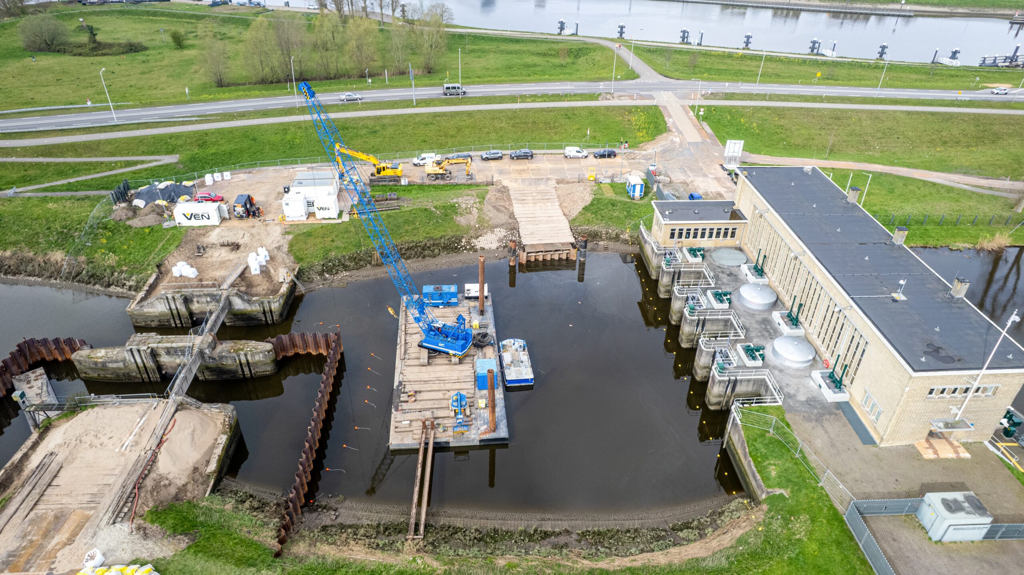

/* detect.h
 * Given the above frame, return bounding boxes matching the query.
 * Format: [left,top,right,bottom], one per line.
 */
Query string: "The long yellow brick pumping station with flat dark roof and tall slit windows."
[729,165,1024,446]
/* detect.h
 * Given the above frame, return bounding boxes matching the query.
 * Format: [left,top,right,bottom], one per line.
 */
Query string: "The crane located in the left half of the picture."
[293,82,475,365]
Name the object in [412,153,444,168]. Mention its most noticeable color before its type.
white vehicle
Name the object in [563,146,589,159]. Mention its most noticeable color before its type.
white vehicle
